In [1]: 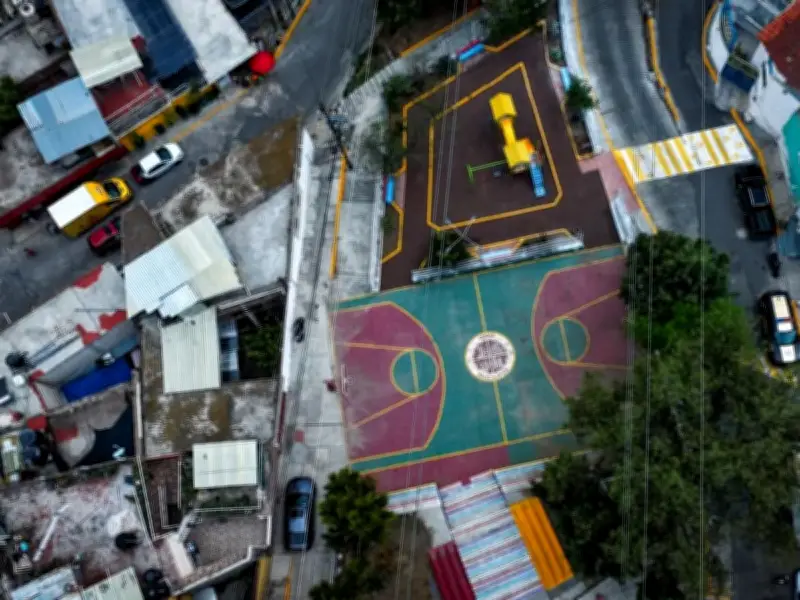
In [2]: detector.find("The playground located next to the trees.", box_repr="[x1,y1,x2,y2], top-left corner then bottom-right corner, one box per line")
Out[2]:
[377,19,625,291]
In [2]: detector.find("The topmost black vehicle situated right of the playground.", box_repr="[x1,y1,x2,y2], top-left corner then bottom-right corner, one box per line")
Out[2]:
[734,166,777,238]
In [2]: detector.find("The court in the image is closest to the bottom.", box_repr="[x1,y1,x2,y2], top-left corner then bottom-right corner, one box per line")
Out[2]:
[328,243,658,492]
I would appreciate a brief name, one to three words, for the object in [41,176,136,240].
truck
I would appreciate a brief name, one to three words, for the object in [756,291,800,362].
car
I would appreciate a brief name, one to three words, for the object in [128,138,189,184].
car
